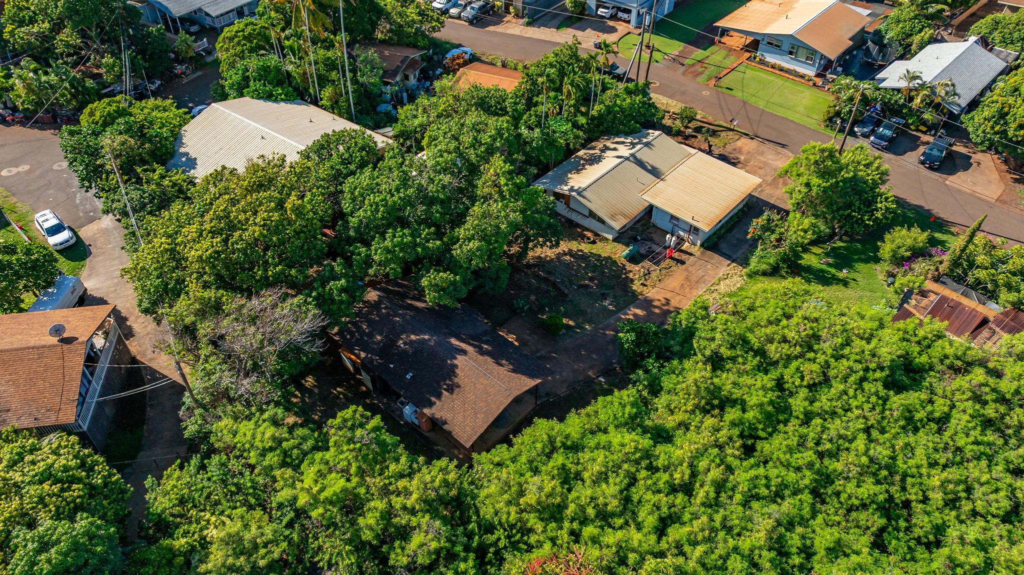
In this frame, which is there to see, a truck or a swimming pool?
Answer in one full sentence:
This aerial view contains a truck.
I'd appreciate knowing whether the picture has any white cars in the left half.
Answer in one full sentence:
Yes, a white car shows up in the left half.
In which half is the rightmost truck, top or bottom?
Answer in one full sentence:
The rightmost truck is in the top half of the image.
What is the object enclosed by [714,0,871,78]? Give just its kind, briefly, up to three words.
house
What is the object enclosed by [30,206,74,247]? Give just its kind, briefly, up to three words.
car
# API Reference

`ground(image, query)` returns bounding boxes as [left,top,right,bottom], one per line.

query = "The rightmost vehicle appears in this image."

[922,126,964,165]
